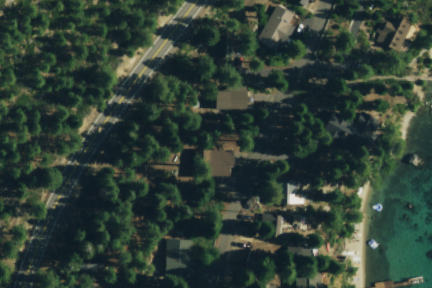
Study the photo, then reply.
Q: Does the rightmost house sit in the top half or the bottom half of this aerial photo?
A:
top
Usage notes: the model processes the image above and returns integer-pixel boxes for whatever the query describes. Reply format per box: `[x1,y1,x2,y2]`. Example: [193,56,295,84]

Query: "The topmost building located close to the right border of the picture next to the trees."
[374,17,416,50]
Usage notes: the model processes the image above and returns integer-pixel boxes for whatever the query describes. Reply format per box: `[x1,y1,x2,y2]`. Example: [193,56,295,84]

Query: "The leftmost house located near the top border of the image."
[260,5,296,46]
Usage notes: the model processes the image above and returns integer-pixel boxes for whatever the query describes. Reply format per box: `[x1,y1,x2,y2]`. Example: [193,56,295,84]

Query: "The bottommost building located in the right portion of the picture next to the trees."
[294,272,327,287]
